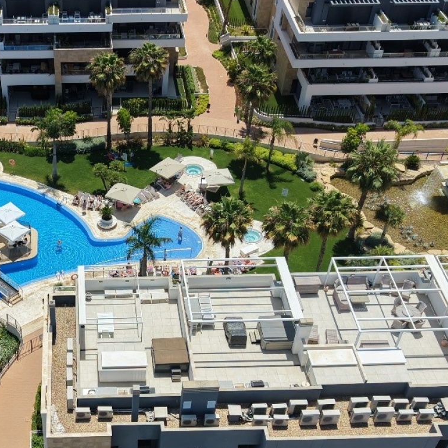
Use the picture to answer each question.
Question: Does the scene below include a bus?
No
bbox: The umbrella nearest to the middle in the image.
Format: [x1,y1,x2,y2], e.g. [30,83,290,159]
[197,170,238,193]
